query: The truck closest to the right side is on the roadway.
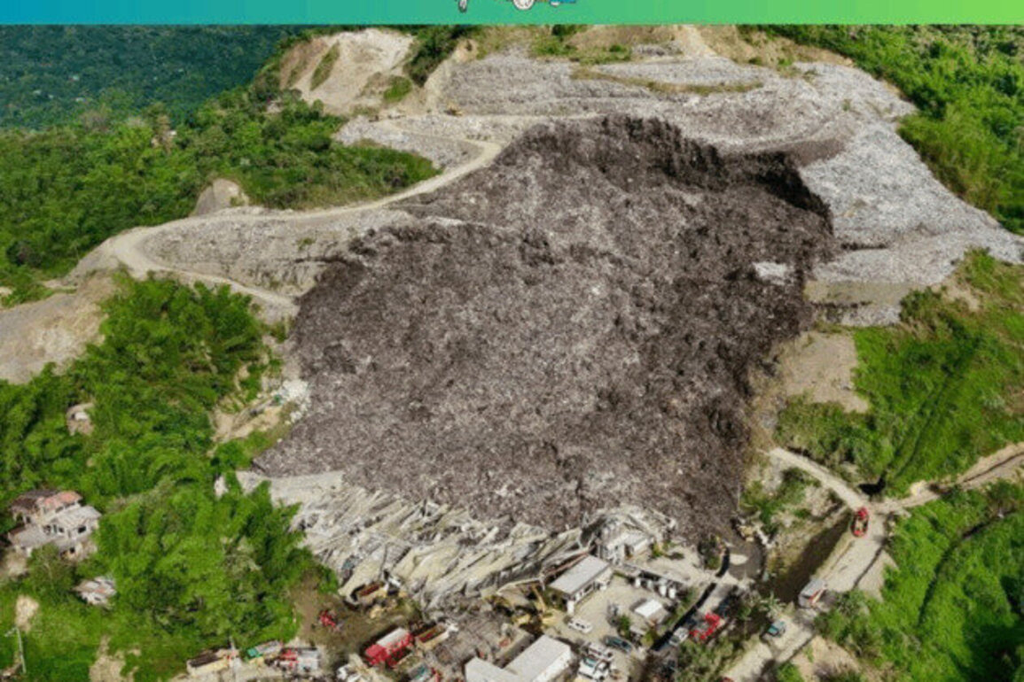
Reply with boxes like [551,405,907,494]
[851,498,873,535]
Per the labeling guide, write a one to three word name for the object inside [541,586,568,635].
work vehicle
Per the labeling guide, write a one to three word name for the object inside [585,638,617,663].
car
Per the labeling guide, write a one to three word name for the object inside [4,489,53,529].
house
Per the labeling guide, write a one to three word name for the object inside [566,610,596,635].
vehicle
